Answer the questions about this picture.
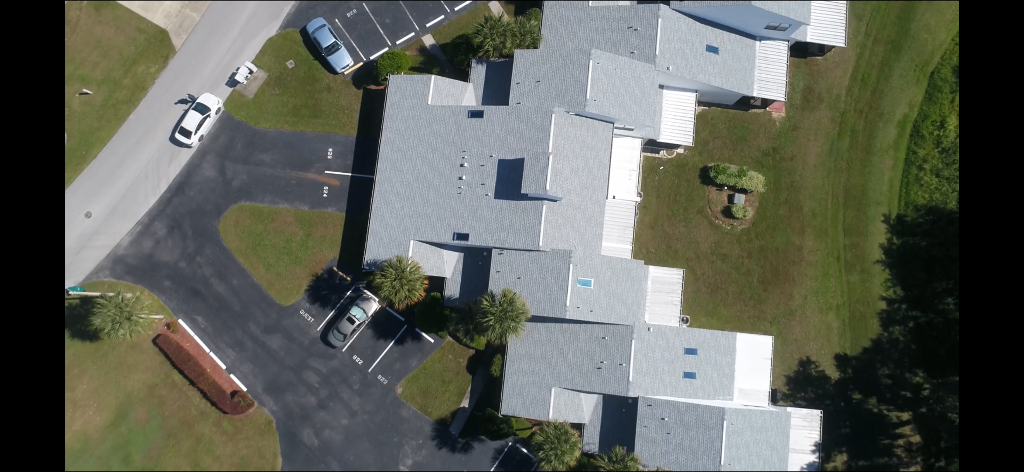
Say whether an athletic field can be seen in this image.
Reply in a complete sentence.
No, no athletic field can be seen from above.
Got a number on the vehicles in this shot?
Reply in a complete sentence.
In total, there are 3 vehicles in the scene.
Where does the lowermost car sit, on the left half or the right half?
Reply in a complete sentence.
It is on the left.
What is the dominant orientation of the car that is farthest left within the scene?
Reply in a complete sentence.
What the image shows is the car that is farthest left lying on a diagonal.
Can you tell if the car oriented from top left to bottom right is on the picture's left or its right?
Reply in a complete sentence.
It is on the left.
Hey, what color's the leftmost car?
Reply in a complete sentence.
In this view, the leftmost car is white.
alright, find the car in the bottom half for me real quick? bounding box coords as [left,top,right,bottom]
[325,294,378,349]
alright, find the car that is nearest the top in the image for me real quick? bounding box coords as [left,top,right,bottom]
[306,17,354,73]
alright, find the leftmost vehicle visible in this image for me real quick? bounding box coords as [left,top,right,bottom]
[176,93,225,148]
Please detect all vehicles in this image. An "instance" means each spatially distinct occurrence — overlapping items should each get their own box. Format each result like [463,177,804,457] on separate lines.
[306,17,354,73]
[176,93,225,148]
[325,294,378,349]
